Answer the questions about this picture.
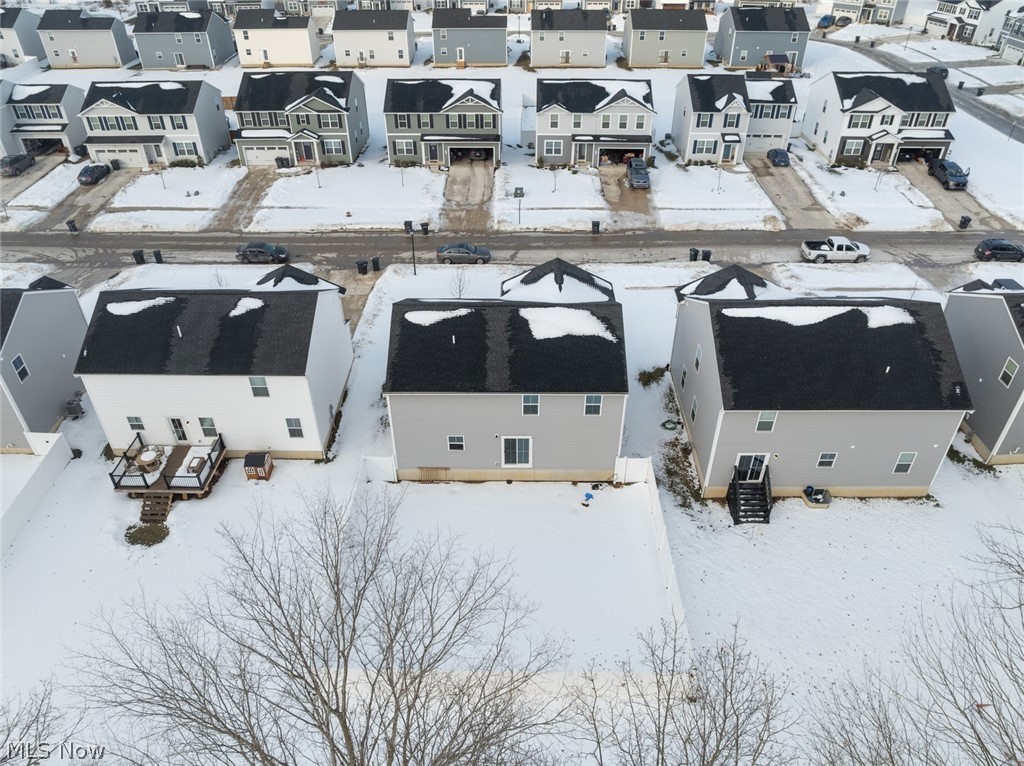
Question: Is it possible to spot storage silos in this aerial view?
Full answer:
No, there is no storage silo in the image.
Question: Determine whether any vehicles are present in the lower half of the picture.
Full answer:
No, no vehicle is visible in the lower half of the picture.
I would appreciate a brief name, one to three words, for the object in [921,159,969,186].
vehicle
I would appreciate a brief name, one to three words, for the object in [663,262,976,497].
house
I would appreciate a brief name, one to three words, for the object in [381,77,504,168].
house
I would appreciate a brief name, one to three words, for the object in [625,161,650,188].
vehicle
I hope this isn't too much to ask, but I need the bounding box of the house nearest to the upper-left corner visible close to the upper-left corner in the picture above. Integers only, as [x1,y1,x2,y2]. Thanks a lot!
[0,4,46,63]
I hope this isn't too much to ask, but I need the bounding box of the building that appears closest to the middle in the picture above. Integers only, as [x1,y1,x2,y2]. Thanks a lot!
[383,256,630,482]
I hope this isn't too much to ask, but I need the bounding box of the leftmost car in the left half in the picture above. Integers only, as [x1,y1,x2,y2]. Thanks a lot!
[0,155,25,179]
